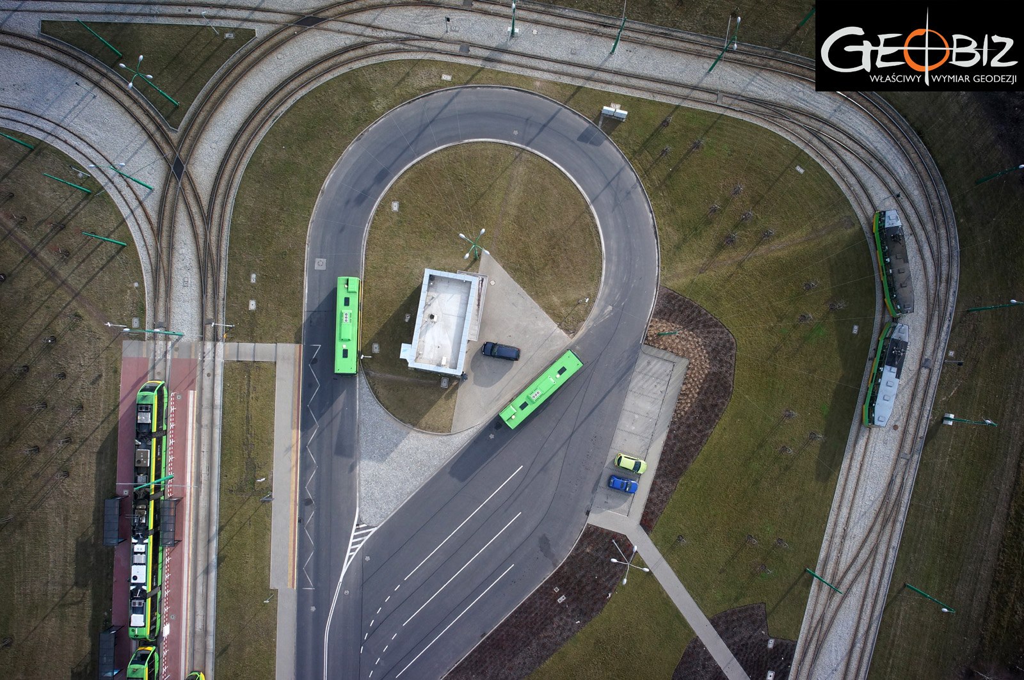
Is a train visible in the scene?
Yes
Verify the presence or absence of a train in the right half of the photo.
Yes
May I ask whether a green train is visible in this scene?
Yes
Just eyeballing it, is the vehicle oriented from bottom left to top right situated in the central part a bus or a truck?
bus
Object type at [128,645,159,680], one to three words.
train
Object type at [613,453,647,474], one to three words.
car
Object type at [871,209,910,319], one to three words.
train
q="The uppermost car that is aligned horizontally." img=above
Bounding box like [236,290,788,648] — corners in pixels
[482,340,521,360]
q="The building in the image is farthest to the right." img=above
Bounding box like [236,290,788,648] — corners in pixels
[401,269,490,375]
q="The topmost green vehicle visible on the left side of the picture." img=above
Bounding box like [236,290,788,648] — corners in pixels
[334,277,362,378]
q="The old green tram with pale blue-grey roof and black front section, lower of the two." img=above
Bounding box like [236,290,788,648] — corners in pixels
[861,321,911,429]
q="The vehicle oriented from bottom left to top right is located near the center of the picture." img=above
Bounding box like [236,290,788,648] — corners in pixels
[499,346,586,428]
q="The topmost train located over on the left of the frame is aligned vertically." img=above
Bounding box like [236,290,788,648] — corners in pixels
[128,382,167,648]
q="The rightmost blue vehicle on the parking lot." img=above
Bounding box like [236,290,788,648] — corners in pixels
[607,475,638,494]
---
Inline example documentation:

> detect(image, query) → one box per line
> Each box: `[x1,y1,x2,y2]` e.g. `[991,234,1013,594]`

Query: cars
[613,453,647,474]
[607,475,638,494]
[482,340,521,360]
